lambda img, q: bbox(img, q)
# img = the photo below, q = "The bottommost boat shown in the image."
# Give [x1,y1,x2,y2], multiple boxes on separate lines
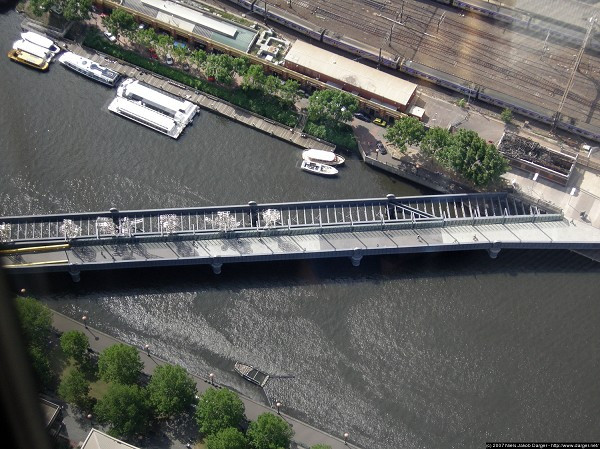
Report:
[233,365,271,387]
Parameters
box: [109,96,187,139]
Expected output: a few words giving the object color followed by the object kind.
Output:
white boat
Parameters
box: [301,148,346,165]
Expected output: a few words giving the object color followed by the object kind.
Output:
white boat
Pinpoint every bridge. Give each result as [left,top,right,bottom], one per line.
[0,191,600,285]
